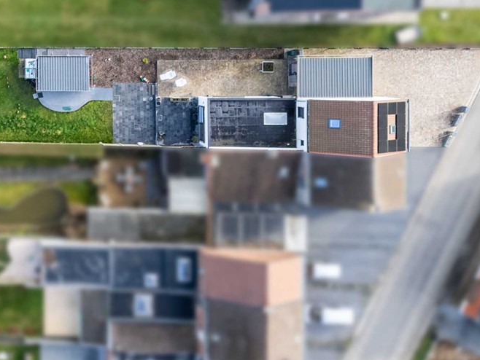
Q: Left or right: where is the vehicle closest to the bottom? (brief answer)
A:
right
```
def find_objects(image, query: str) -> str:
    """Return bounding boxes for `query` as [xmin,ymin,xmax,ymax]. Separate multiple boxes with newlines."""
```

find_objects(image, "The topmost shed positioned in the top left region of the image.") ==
[33,55,93,91]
